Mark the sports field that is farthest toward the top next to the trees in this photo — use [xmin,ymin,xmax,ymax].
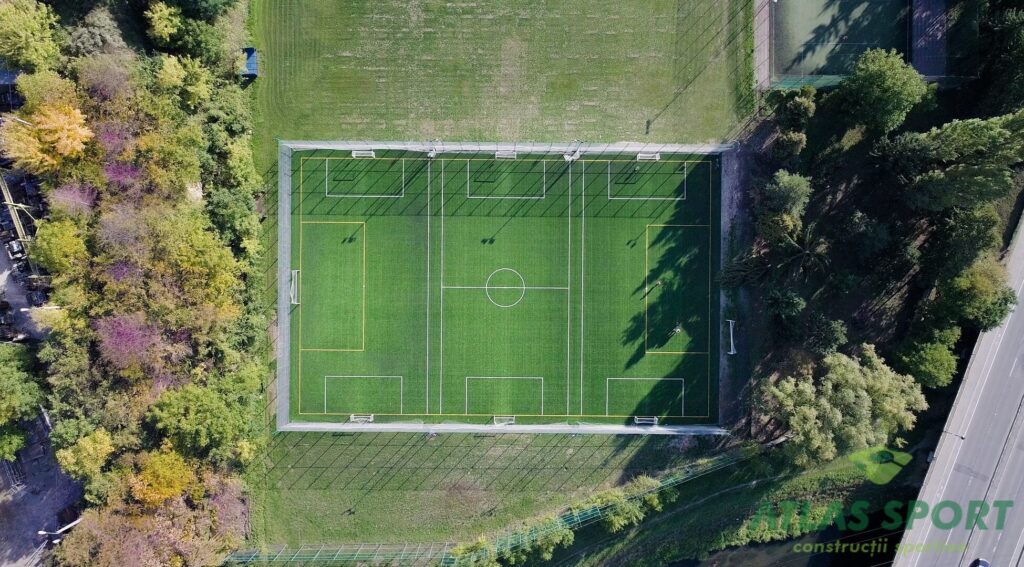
[256,0,744,139]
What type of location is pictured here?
sports ground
